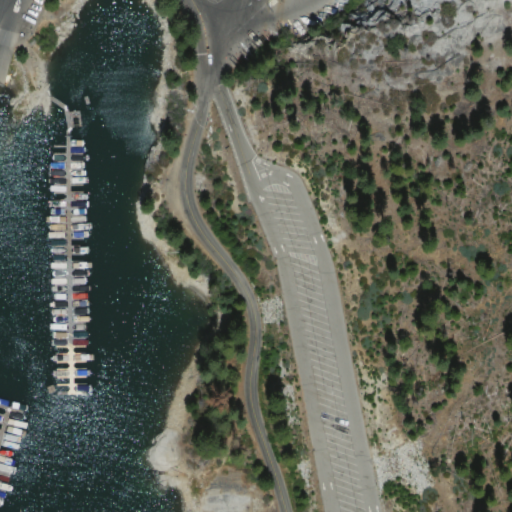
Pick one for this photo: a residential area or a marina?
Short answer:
marina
